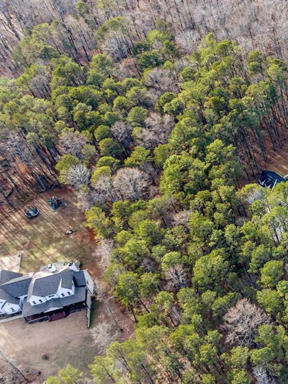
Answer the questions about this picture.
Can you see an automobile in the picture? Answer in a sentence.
No, there's no automobile here.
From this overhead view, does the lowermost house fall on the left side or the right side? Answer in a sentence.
You can find the lowermost house on the left side of the picture.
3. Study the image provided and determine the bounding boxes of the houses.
[253,167,288,195]
[0,254,100,333]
